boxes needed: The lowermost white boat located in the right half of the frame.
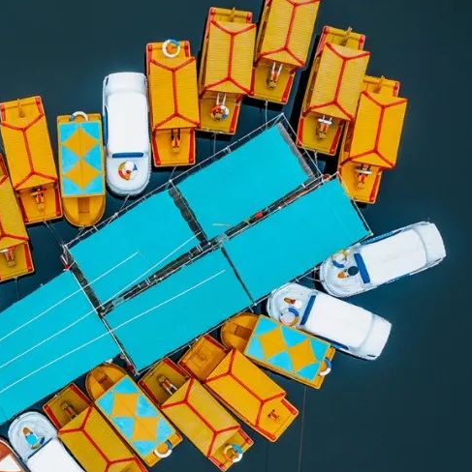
[266,282,390,360]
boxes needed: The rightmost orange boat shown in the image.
[340,76,414,203]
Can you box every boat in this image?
[59,114,107,245]
[179,334,297,440]
[340,76,414,203]
[11,409,90,472]
[305,220,446,294]
[297,26,374,167]
[0,95,62,242]
[140,358,253,472]
[87,365,183,468]
[44,385,148,472]
[207,316,335,390]
[146,40,202,188]
[266,282,390,360]
[101,72,152,208]
[196,5,258,153]
[248,0,319,122]
[0,153,33,300]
